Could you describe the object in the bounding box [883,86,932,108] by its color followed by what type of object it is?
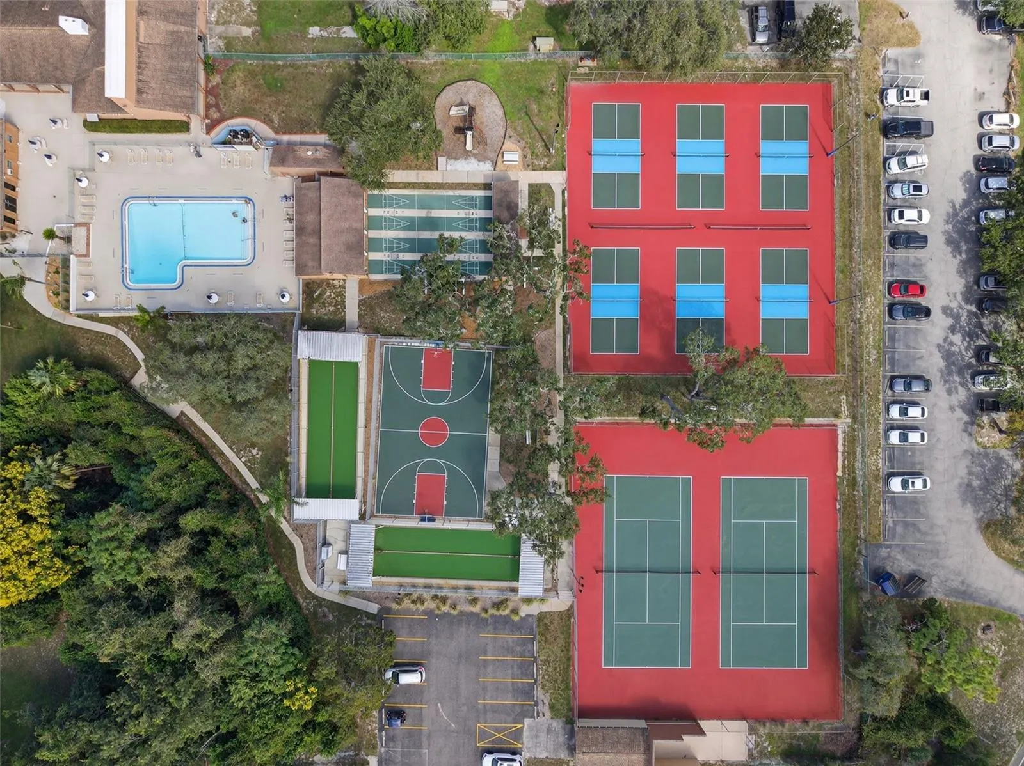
white truck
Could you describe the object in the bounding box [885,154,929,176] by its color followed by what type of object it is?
white car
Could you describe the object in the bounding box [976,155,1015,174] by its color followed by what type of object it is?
black car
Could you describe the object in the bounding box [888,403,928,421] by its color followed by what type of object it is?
white car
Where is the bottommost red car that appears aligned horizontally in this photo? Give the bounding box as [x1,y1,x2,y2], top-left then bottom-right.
[889,281,927,299]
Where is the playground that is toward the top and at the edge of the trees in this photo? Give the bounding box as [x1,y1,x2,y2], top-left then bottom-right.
[448,99,487,149]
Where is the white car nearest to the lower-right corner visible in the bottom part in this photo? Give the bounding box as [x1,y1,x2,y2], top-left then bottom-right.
[889,475,929,494]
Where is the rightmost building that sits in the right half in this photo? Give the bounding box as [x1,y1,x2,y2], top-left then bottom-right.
[647,719,707,766]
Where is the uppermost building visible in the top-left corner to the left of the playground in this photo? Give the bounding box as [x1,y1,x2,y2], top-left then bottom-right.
[0,0,207,121]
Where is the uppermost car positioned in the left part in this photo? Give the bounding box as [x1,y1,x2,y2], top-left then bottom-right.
[387,665,423,686]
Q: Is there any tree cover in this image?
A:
Yes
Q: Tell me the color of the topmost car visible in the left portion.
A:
white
